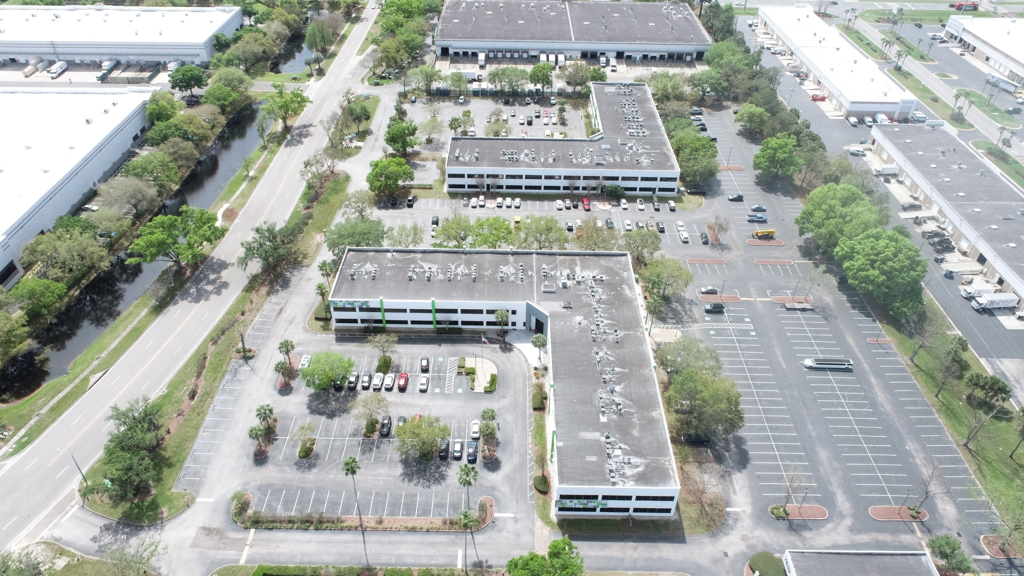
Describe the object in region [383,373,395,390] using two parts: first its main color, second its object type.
white vehicle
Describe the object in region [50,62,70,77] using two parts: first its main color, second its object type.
white vehicle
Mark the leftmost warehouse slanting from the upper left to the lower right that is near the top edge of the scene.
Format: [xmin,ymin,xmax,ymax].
[751,0,930,121]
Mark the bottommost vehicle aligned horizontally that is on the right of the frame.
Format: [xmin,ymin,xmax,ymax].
[683,432,709,444]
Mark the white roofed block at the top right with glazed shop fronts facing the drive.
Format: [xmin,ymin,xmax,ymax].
[940,20,1024,88]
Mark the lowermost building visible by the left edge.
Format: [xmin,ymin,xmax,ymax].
[0,85,165,279]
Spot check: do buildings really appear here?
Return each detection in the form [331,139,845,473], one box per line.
[0,2,245,63]
[436,0,712,61]
[867,119,1024,318]
[775,549,938,576]
[329,247,681,516]
[751,0,930,121]
[0,85,165,279]
[940,20,1024,88]
[445,82,680,194]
